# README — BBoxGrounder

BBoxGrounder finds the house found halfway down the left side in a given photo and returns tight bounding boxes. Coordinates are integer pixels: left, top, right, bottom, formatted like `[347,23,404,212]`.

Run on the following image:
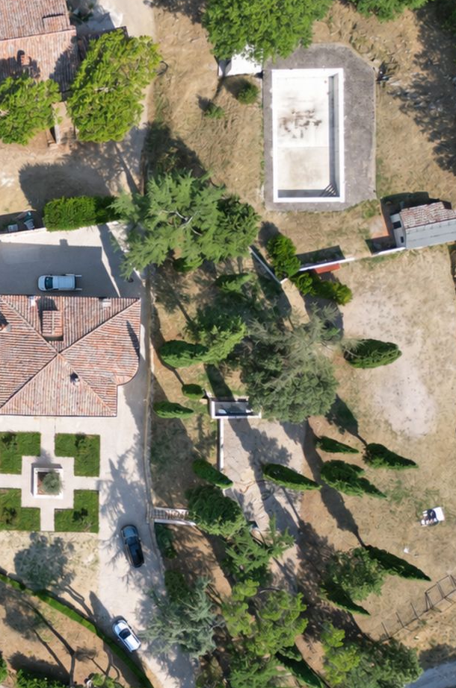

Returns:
[0,294,142,417]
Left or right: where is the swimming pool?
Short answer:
right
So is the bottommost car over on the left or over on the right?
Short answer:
left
